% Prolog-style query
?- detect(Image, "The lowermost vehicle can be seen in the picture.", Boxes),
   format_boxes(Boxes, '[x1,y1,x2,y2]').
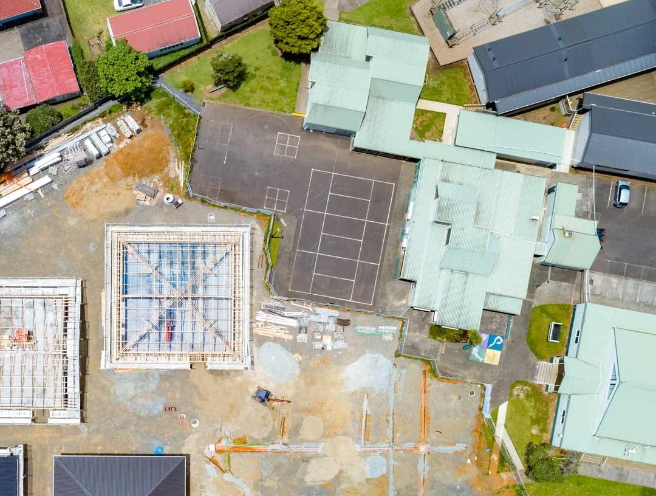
[254,384,293,405]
